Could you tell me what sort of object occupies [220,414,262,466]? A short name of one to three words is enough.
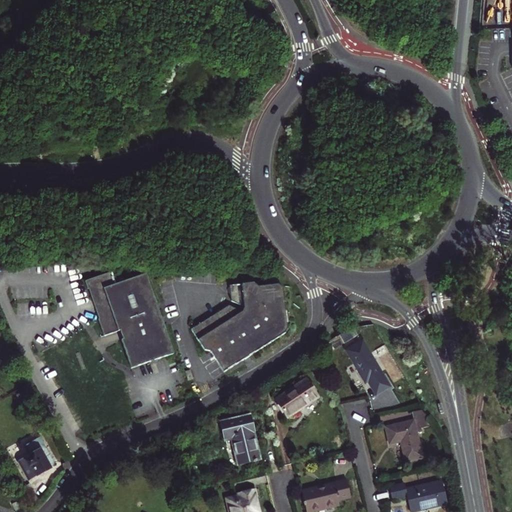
house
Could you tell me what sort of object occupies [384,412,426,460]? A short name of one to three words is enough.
house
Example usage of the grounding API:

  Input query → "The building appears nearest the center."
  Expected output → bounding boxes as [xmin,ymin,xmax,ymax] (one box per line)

[192,282,287,374]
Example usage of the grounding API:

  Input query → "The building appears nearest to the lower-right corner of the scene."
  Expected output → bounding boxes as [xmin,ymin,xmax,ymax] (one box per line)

[390,479,448,512]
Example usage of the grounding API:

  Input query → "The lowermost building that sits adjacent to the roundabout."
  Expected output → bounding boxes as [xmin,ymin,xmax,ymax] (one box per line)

[342,332,400,410]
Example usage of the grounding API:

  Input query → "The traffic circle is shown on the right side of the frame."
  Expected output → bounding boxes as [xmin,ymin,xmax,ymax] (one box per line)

[248,54,484,292]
